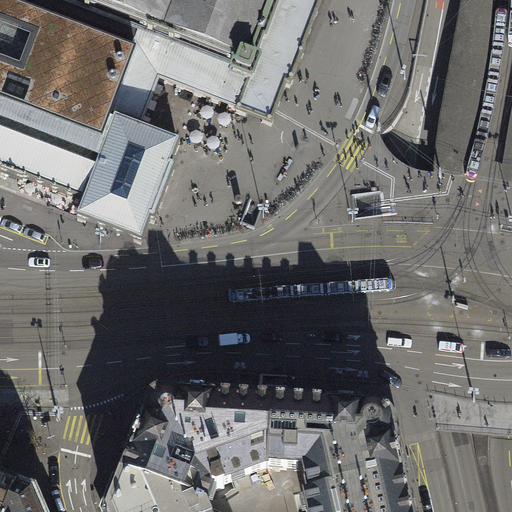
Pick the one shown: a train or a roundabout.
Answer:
train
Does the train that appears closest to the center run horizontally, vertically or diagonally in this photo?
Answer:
horizontally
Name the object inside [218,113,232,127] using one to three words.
umbrella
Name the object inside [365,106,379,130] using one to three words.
car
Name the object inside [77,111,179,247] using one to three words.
building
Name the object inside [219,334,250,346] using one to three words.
vehicle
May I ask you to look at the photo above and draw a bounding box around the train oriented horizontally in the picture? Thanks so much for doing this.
[227,280,396,304]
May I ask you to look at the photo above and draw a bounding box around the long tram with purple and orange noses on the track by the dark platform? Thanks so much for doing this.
[465,9,506,186]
